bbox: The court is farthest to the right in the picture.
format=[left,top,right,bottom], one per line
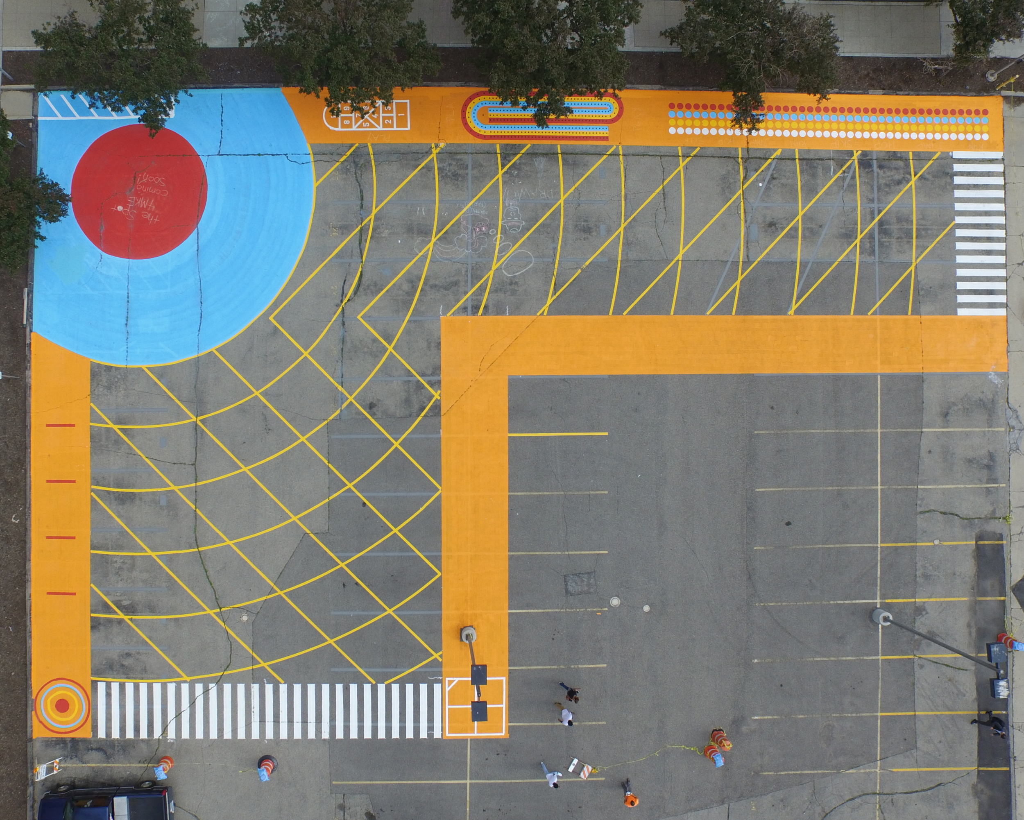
[446,677,506,736]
